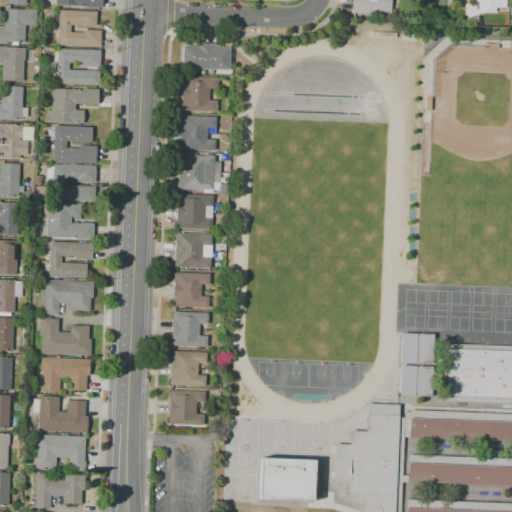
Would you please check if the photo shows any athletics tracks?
Yes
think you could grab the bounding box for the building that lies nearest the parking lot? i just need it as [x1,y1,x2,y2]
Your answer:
[169,389,208,428]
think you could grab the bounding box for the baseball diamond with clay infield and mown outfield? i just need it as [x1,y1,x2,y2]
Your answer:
[418,45,512,286]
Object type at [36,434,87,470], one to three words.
house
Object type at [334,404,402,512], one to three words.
building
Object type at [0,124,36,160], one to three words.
house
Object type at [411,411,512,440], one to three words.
building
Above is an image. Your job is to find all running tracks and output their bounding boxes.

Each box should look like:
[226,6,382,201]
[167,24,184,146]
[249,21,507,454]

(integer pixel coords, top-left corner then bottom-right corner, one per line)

[234,42,406,417]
